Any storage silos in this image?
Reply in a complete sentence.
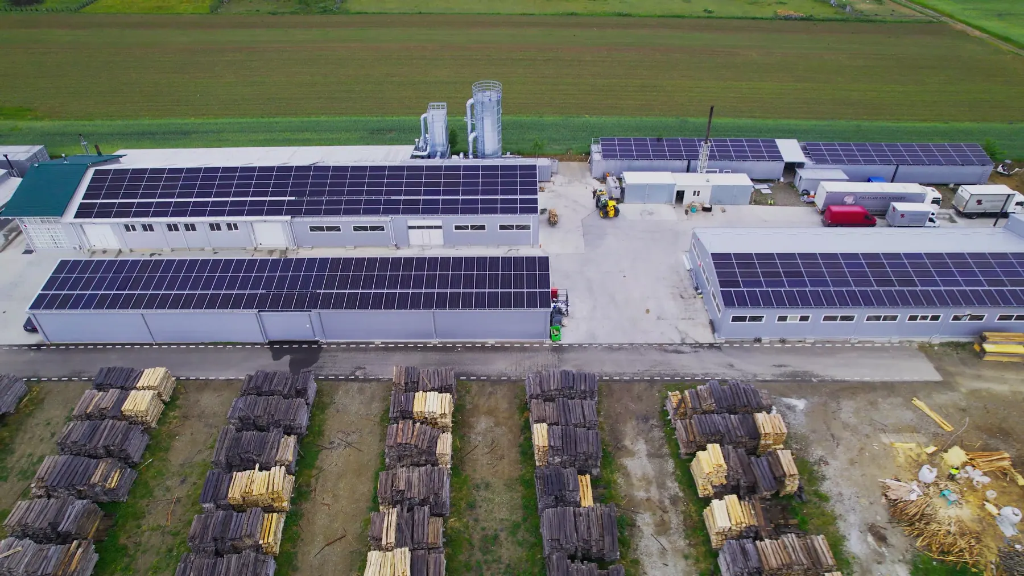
Yes, a storage silo appears in the view.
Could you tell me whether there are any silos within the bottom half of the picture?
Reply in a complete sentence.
No, no silo can be made out within the bottom half of the picture.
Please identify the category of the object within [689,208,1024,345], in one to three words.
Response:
building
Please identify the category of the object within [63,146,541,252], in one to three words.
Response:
building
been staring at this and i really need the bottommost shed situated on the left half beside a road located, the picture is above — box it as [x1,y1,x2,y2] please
[26,255,552,344]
